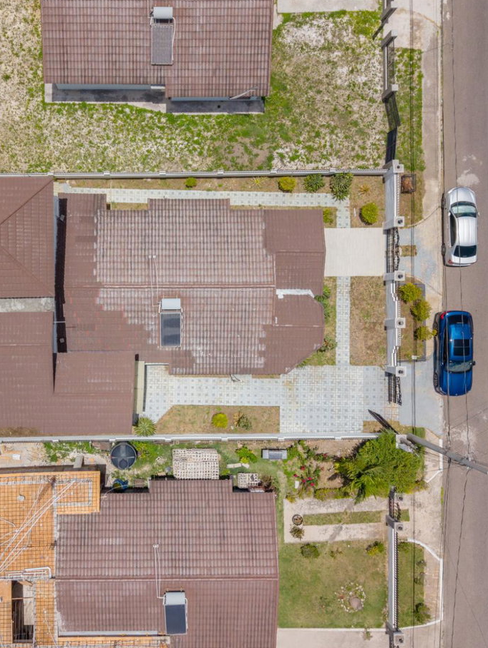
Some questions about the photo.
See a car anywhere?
Yes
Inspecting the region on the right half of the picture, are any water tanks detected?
No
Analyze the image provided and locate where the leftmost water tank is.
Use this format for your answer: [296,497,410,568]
[112,439,136,466]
